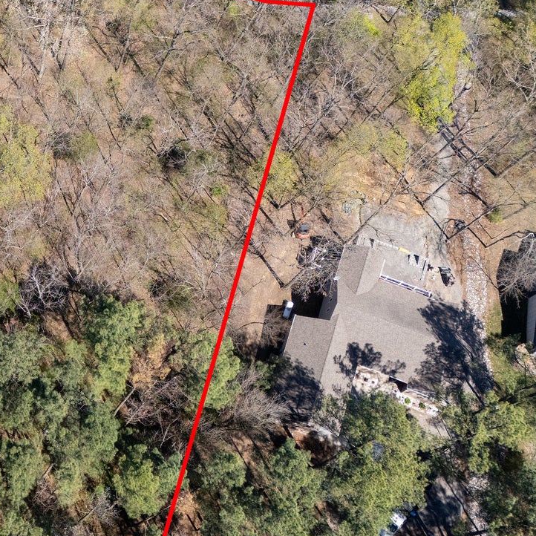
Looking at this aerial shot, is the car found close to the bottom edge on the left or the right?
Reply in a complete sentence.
It is on the right.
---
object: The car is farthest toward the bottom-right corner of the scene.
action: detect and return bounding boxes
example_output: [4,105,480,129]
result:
[375,507,414,536]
